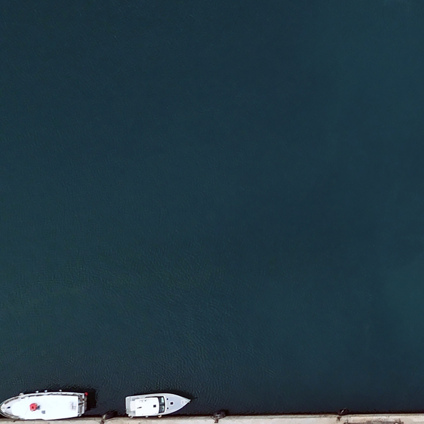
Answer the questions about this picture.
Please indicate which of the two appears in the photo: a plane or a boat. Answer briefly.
boat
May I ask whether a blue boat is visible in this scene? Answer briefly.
No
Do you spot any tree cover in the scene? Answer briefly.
No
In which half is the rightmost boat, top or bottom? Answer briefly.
bottom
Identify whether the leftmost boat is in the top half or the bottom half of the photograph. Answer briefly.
bottom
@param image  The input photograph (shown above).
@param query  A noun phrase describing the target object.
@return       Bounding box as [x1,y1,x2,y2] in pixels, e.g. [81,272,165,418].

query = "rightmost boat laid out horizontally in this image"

[126,393,193,417]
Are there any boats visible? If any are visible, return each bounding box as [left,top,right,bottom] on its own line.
[0,392,90,422]
[126,393,193,417]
